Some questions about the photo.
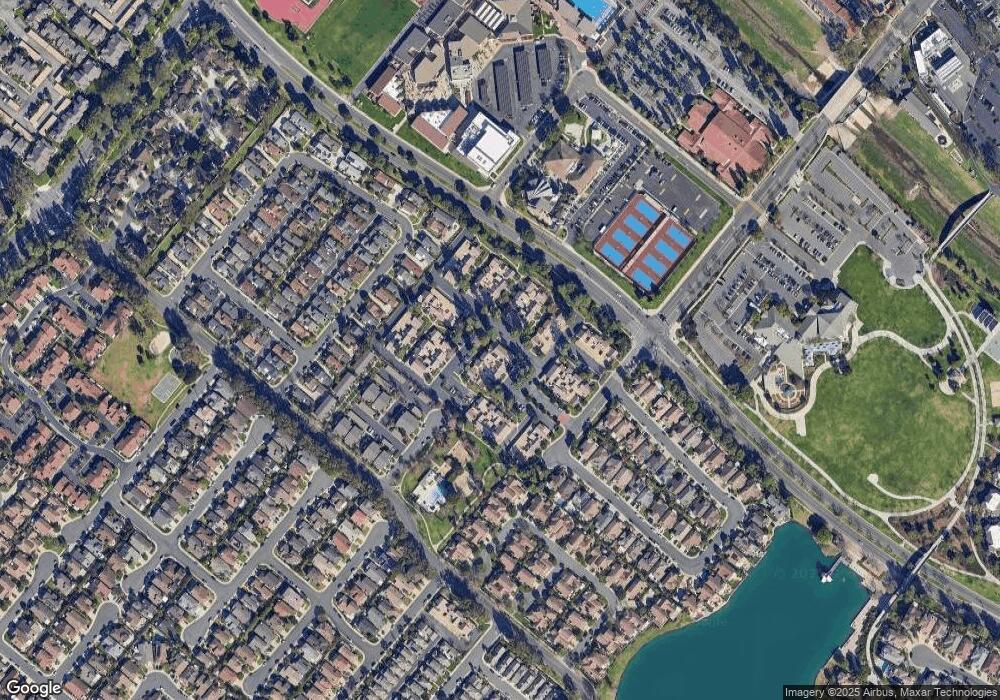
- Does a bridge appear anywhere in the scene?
Yes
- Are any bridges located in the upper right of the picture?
Yes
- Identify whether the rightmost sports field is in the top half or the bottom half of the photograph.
top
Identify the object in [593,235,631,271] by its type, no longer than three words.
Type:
tennis court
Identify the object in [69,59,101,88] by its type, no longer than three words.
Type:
building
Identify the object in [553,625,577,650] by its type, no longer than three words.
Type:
house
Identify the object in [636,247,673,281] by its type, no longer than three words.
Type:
tennis court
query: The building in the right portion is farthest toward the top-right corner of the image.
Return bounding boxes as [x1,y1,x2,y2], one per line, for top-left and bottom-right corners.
[921,28,963,88]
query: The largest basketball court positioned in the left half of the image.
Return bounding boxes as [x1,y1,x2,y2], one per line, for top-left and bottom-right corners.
[152,372,182,401]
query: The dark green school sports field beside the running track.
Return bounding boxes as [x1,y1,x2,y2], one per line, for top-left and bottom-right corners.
[311,0,418,88]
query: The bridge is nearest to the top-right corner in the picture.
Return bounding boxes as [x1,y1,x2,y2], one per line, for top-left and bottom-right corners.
[819,60,874,125]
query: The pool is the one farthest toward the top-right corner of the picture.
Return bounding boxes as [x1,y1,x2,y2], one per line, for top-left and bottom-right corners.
[576,0,618,26]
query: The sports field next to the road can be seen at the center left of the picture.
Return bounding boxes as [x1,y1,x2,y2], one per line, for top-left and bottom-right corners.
[98,330,184,426]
